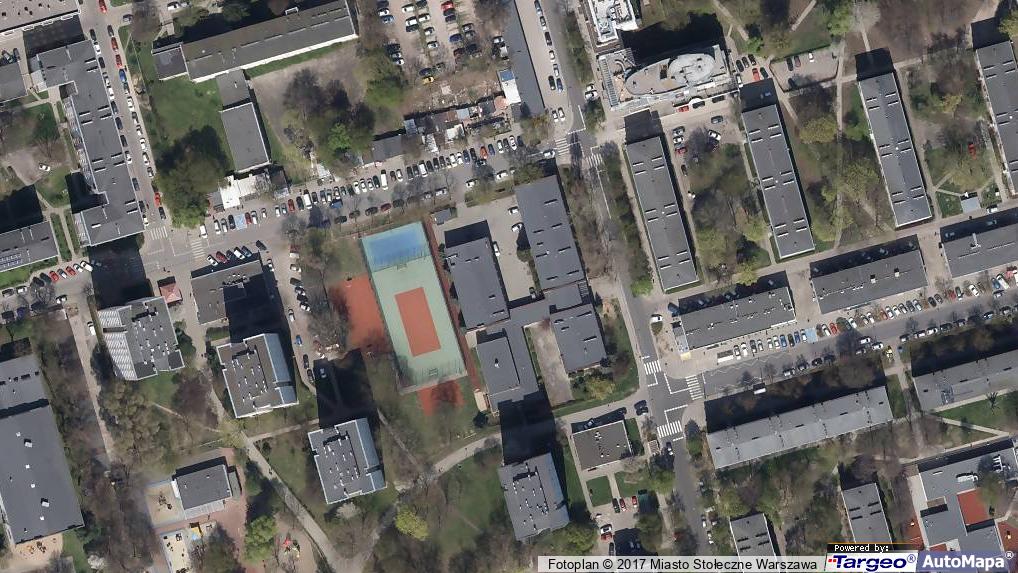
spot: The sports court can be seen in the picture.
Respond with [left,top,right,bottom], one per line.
[361,220,469,396]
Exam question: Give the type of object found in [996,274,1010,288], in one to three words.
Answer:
vehicle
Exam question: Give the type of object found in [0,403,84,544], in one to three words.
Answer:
building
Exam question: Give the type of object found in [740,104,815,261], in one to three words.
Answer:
building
